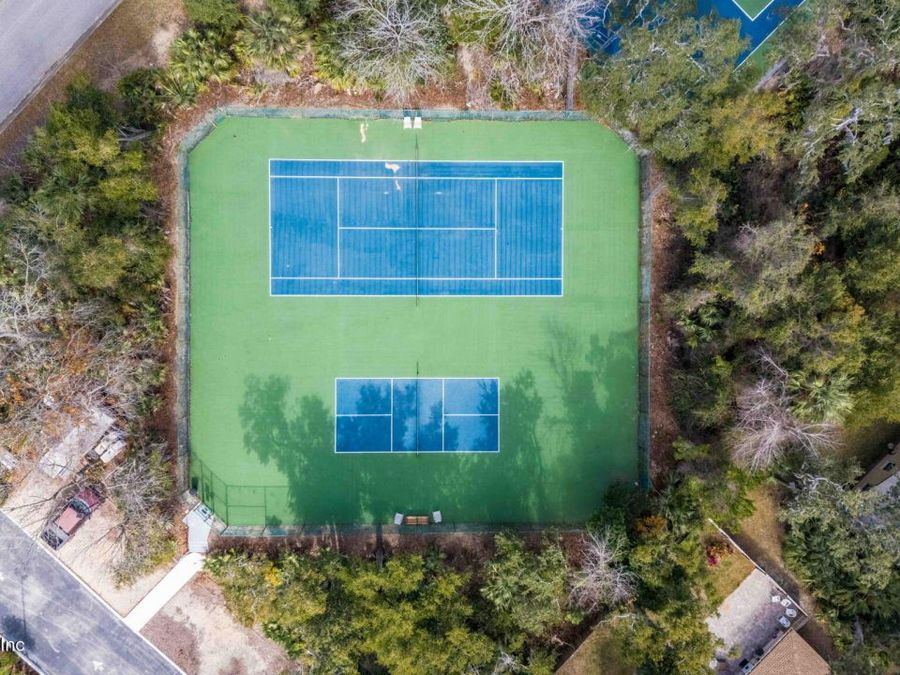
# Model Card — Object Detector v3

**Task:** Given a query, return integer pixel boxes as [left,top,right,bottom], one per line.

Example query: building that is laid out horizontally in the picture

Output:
[731,627,838,675]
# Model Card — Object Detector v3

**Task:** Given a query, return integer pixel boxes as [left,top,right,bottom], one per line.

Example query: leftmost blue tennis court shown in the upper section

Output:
[269,159,563,296]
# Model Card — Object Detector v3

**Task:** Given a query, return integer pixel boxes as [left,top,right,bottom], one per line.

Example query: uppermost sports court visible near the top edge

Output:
[552,0,834,130]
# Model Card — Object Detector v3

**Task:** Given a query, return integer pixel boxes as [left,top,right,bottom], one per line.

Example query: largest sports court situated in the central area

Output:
[189,118,639,526]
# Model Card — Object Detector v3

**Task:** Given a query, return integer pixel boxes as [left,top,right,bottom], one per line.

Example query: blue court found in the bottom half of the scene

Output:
[336,378,499,453]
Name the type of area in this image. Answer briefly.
sports ground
